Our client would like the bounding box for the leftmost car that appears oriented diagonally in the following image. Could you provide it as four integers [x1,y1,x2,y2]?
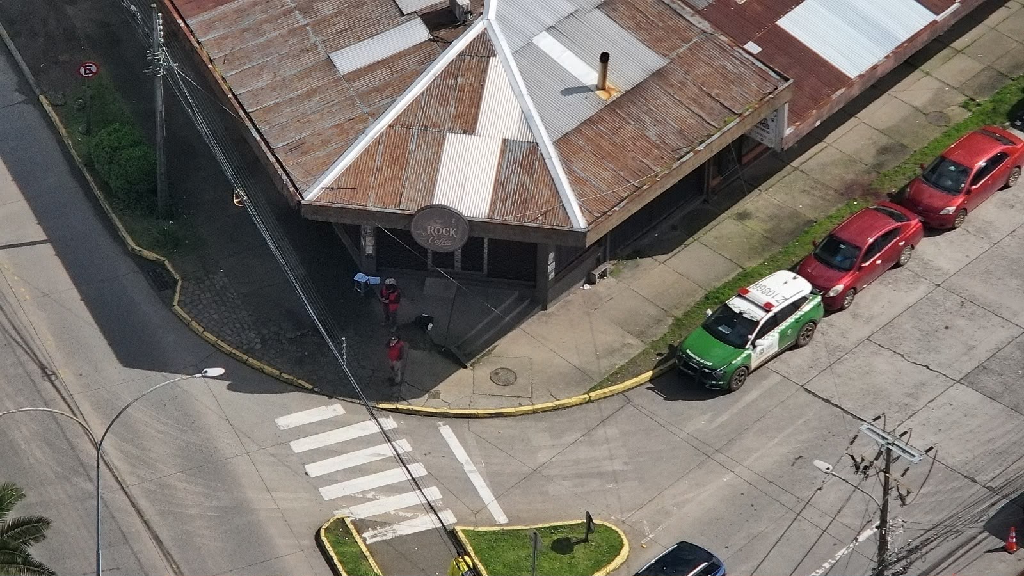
[673,275,825,394]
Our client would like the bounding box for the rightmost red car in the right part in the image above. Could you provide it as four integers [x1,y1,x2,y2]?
[901,126,1024,231]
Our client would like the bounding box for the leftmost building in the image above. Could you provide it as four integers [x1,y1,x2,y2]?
[154,0,793,310]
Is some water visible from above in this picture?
No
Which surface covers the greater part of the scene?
paved ground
